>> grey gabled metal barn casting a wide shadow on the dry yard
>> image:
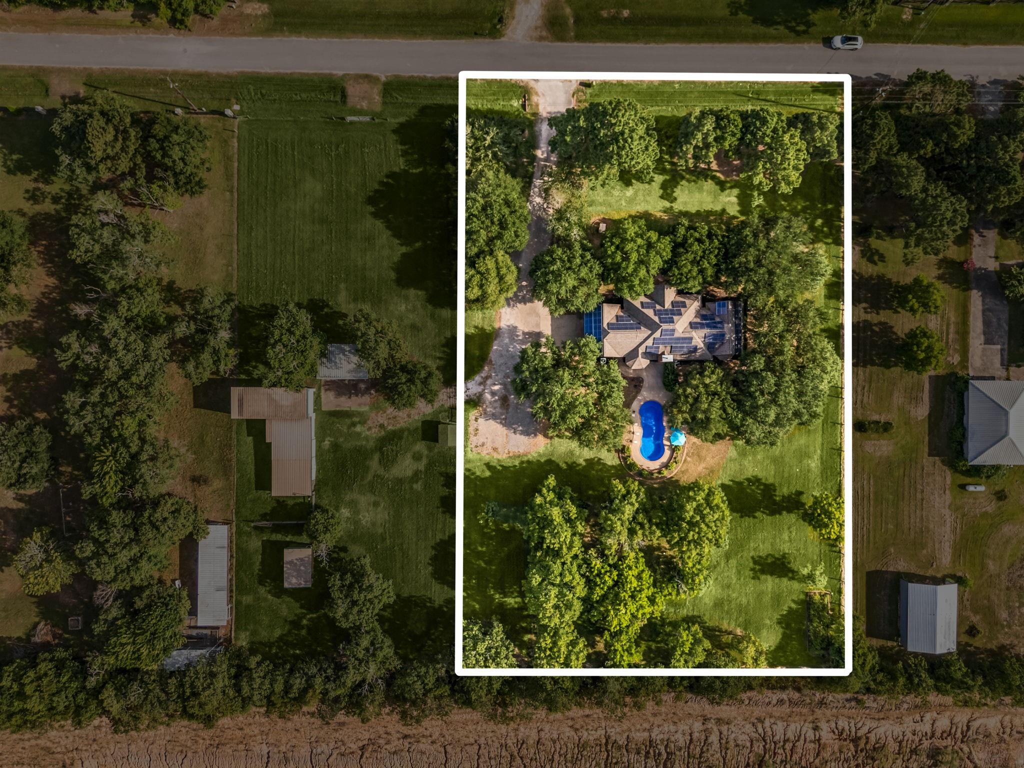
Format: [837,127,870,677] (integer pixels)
[897,579,958,654]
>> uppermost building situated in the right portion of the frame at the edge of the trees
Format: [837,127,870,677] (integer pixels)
[602,285,736,369]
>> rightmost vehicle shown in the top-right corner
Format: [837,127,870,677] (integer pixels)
[833,34,866,52]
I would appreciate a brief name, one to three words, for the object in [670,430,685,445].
umbrella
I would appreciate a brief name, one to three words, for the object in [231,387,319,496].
barn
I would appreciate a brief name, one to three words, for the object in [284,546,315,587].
shed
